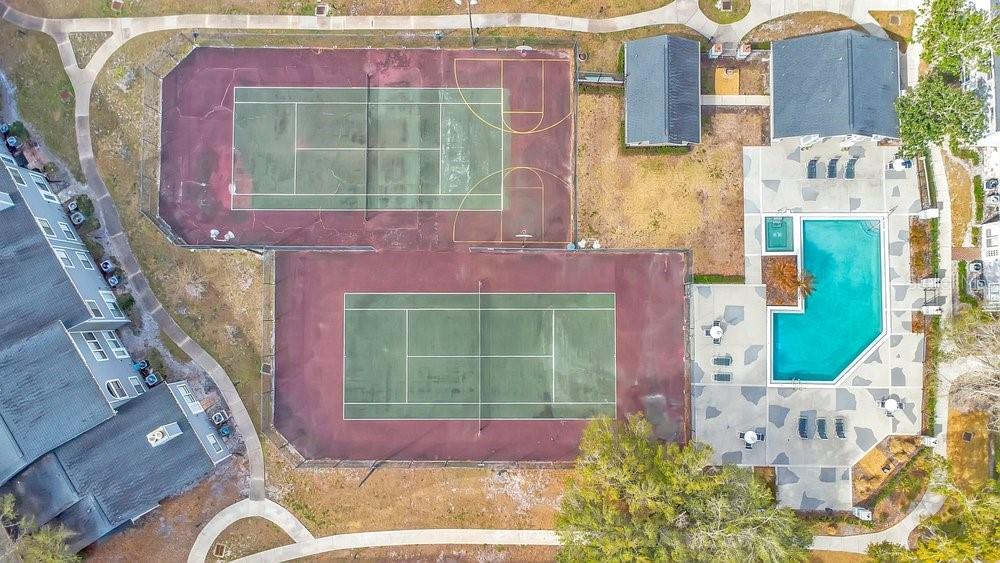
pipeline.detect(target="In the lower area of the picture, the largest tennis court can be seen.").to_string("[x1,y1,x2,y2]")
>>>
[272,250,690,462]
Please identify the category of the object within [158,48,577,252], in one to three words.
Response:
tennis court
